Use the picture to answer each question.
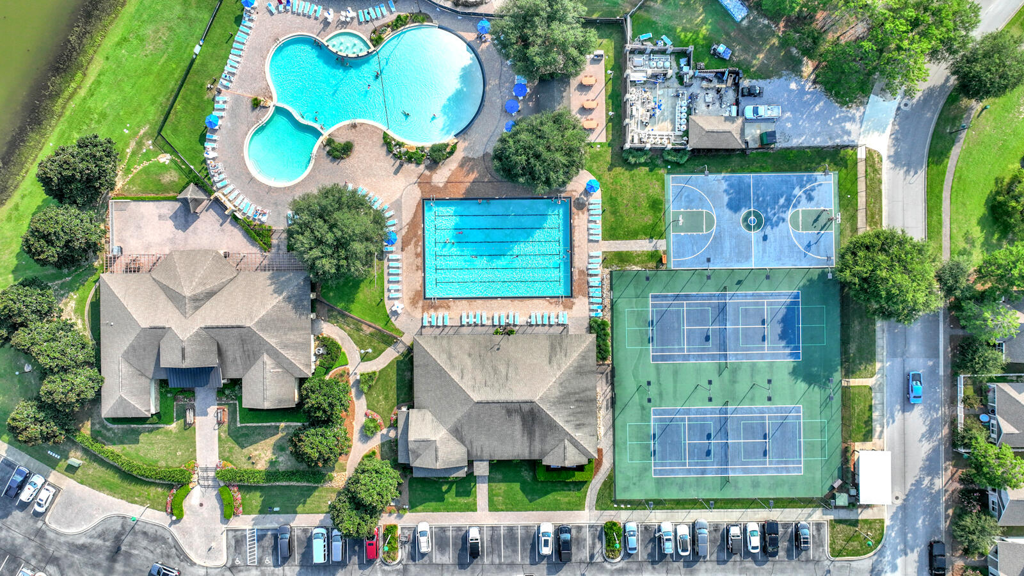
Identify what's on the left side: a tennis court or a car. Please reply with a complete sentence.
Visible on the left side is a car.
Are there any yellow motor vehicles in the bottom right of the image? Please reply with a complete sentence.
No, there is no yellow motor vehicle in the bottom right of the image.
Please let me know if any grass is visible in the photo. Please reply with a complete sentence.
Yes, the picture does contain grass.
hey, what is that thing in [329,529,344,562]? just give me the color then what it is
blue car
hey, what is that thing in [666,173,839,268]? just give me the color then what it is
blue basketball court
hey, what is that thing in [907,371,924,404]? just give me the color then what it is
blue car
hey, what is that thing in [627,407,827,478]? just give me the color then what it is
blue tennis court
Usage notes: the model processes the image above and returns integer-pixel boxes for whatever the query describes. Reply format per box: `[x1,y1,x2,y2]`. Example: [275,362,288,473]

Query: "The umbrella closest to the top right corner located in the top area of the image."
[585,179,599,193]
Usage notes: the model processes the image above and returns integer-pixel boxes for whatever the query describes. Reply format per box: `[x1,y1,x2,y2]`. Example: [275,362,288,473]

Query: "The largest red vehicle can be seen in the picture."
[364,527,379,560]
